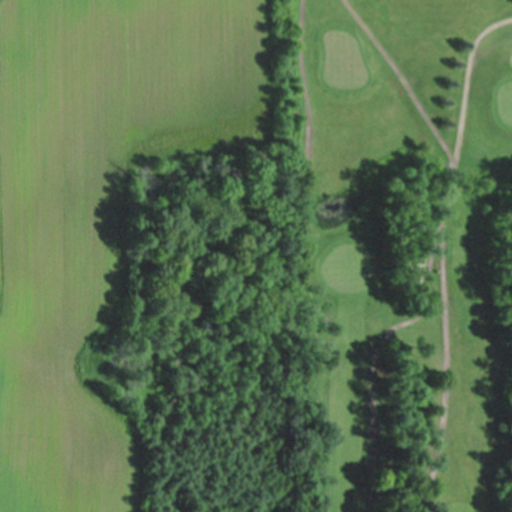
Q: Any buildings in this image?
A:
No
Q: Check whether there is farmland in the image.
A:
Yes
